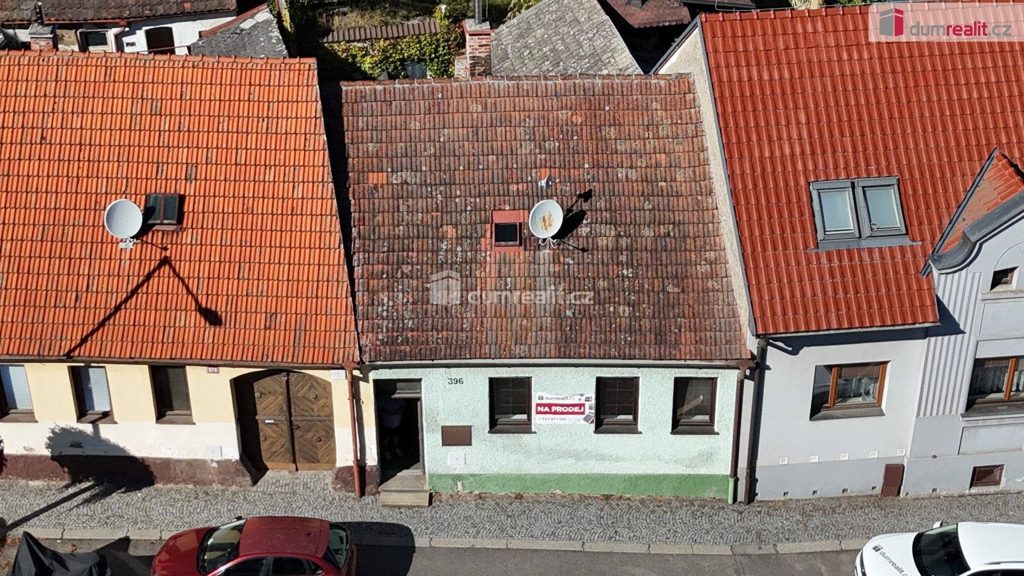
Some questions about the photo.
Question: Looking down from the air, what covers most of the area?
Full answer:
The bulk of the photo consists of buildings.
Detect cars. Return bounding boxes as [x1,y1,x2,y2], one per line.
[855,517,1024,576]
[149,514,361,576]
